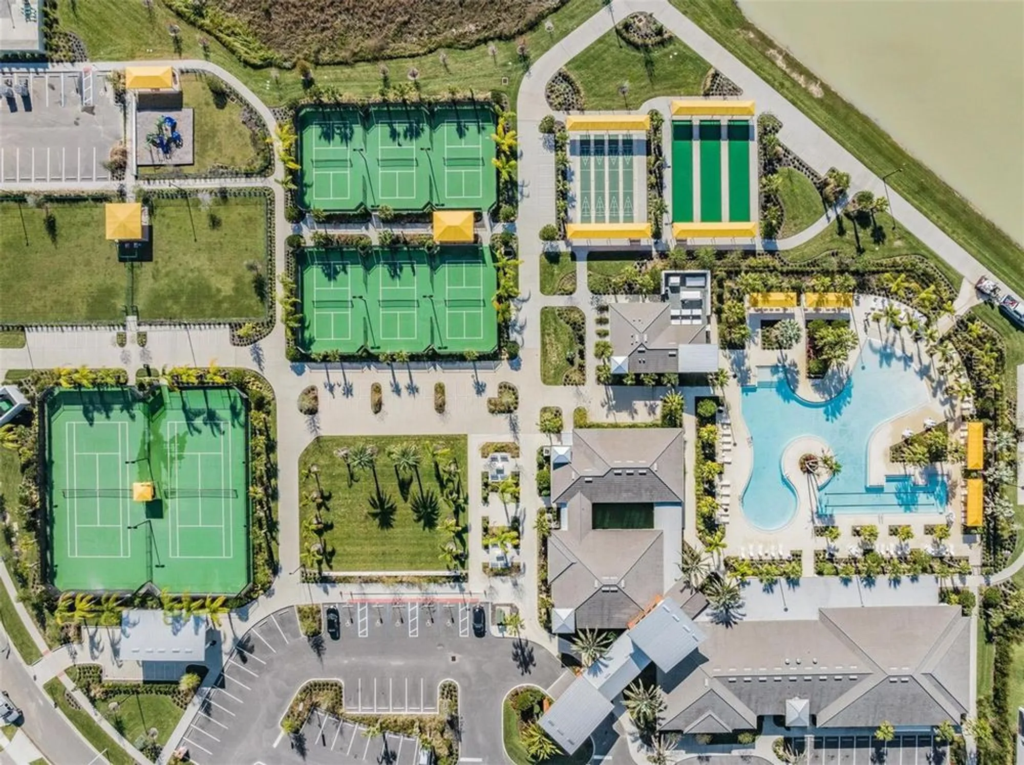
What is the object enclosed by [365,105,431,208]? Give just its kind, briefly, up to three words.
sports court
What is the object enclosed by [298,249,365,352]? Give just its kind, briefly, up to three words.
sports court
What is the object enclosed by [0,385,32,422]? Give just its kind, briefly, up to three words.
building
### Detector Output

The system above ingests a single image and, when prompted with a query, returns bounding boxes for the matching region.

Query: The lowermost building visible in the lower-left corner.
[120,610,210,661]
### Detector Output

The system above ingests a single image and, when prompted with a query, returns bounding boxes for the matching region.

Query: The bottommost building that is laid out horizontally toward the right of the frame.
[656,607,972,735]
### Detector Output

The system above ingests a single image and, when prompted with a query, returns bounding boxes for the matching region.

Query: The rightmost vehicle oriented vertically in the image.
[472,609,486,638]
